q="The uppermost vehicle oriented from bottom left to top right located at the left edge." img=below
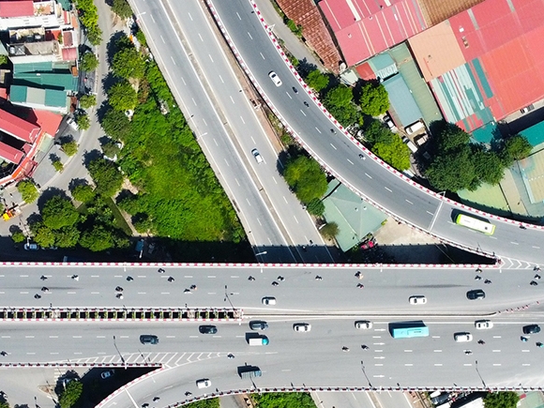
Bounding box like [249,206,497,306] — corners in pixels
[0,201,29,222]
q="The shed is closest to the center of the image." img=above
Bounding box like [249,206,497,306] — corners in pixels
[323,186,388,253]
